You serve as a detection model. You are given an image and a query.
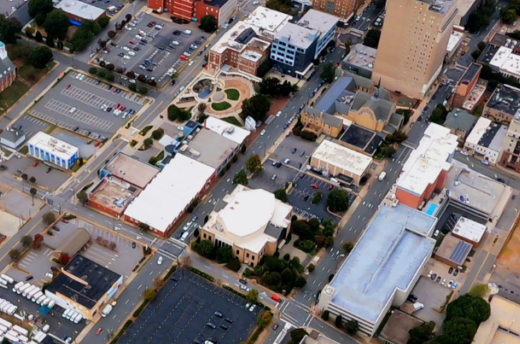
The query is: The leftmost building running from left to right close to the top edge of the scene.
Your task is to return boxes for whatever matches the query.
[54,0,105,24]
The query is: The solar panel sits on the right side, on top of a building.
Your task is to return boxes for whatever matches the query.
[450,242,471,265]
